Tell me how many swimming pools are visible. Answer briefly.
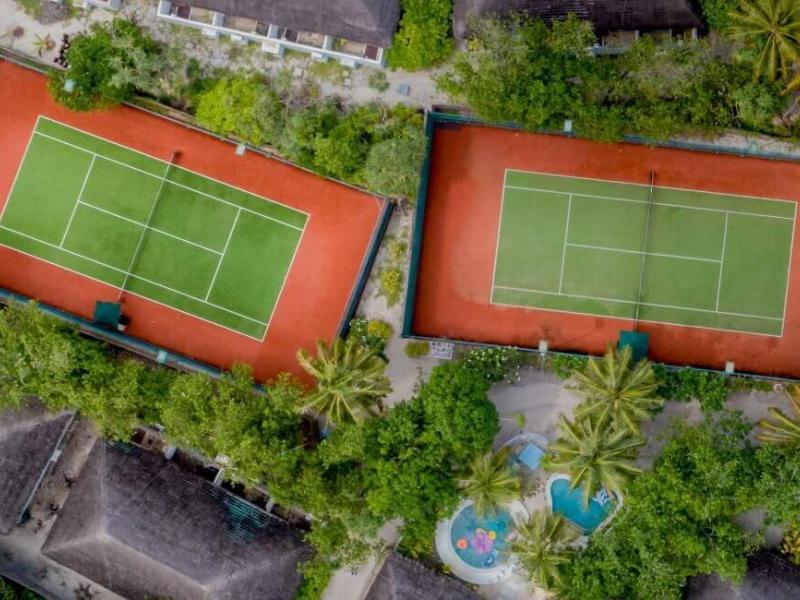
2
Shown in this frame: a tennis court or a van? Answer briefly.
tennis court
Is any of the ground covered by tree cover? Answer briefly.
Yes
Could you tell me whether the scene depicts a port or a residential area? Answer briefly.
residential area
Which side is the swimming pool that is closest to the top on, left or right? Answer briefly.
right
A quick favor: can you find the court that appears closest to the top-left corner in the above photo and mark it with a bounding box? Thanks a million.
[0,55,388,402]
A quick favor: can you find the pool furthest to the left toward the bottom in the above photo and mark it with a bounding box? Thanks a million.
[434,487,540,584]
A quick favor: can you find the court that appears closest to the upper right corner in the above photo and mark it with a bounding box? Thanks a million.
[412,119,800,380]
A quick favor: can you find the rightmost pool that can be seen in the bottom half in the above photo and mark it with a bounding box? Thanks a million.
[544,473,617,534]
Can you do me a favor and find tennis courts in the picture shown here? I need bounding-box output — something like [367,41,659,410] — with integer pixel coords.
[412,119,800,380]
[0,55,388,402]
